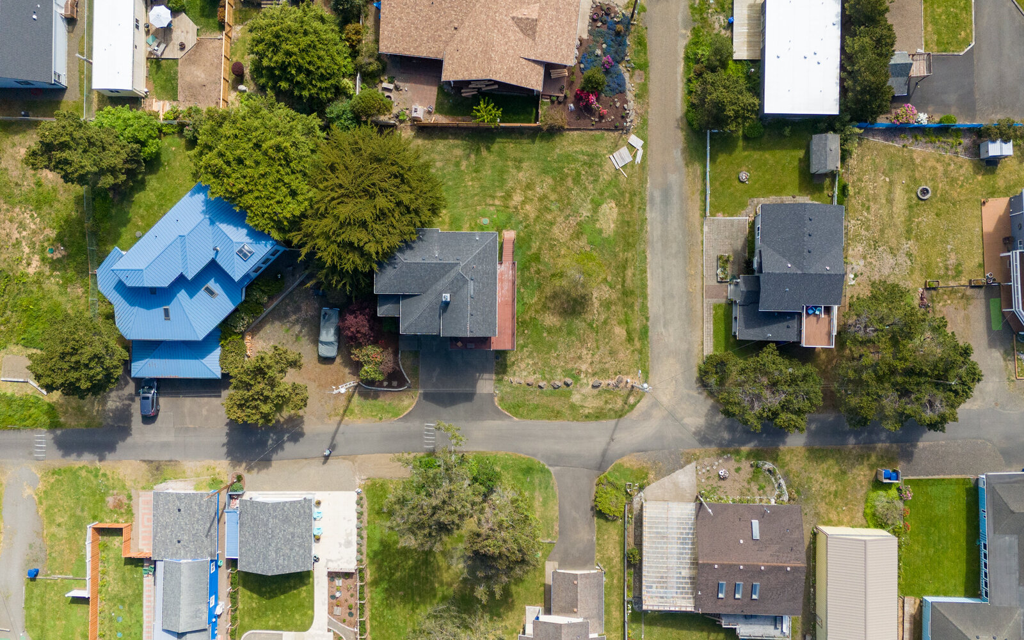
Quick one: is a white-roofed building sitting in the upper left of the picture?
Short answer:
Yes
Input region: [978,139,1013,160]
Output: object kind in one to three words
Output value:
shed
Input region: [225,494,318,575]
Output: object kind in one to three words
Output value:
building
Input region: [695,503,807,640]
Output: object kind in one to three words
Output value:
house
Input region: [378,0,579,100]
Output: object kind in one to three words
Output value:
house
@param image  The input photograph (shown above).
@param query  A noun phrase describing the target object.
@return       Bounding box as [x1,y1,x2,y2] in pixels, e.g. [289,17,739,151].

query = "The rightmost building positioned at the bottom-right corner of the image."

[922,471,1024,640]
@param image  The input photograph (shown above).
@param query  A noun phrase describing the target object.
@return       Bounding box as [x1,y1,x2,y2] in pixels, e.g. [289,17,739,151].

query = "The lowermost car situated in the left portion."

[137,379,162,418]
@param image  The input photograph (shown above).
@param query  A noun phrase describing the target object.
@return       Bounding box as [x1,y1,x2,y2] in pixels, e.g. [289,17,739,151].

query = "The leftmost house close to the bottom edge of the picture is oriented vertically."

[152,490,222,640]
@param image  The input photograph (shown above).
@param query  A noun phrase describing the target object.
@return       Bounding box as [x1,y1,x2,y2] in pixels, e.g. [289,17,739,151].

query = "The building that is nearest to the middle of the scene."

[374,228,516,351]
